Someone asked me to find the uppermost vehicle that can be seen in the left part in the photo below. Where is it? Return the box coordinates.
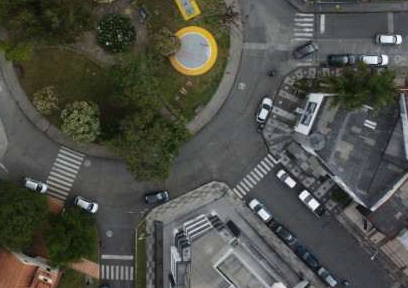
[24,177,49,193]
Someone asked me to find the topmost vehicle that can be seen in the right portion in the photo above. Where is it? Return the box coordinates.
[376,33,401,45]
